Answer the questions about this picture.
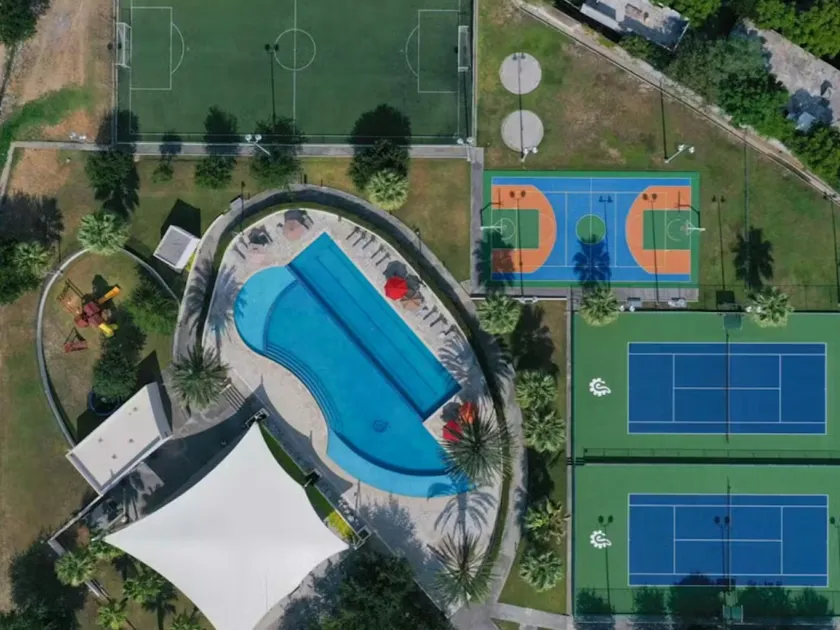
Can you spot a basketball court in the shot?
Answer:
Yes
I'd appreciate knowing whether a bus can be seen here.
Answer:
No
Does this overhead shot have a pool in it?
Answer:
Yes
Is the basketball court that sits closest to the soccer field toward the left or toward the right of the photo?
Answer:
right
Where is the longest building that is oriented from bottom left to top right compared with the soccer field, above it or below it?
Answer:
below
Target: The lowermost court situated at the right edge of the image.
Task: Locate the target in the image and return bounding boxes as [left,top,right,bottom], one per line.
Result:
[575,463,840,623]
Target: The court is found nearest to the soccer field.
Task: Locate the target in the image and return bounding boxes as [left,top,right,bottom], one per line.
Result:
[484,171,700,288]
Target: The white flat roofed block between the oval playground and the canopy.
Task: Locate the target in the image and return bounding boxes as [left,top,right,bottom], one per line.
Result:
[66,381,180,493]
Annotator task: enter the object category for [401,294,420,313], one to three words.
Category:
umbrella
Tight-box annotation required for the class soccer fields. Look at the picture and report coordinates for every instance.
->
[116,0,473,146]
